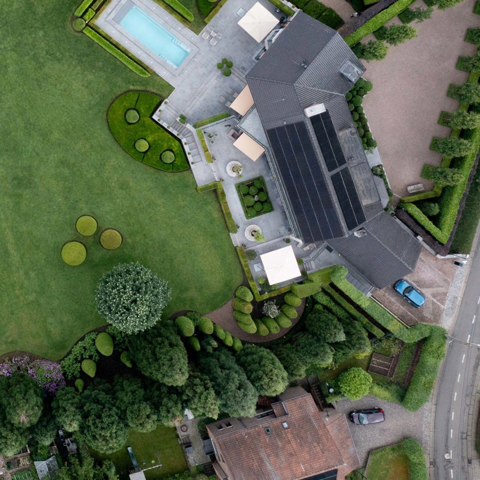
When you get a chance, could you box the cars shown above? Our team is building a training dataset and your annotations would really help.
[349,407,386,426]
[393,279,430,309]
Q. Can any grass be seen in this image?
Yes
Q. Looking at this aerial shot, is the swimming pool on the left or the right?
left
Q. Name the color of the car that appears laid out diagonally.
blue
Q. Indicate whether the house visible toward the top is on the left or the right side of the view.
right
